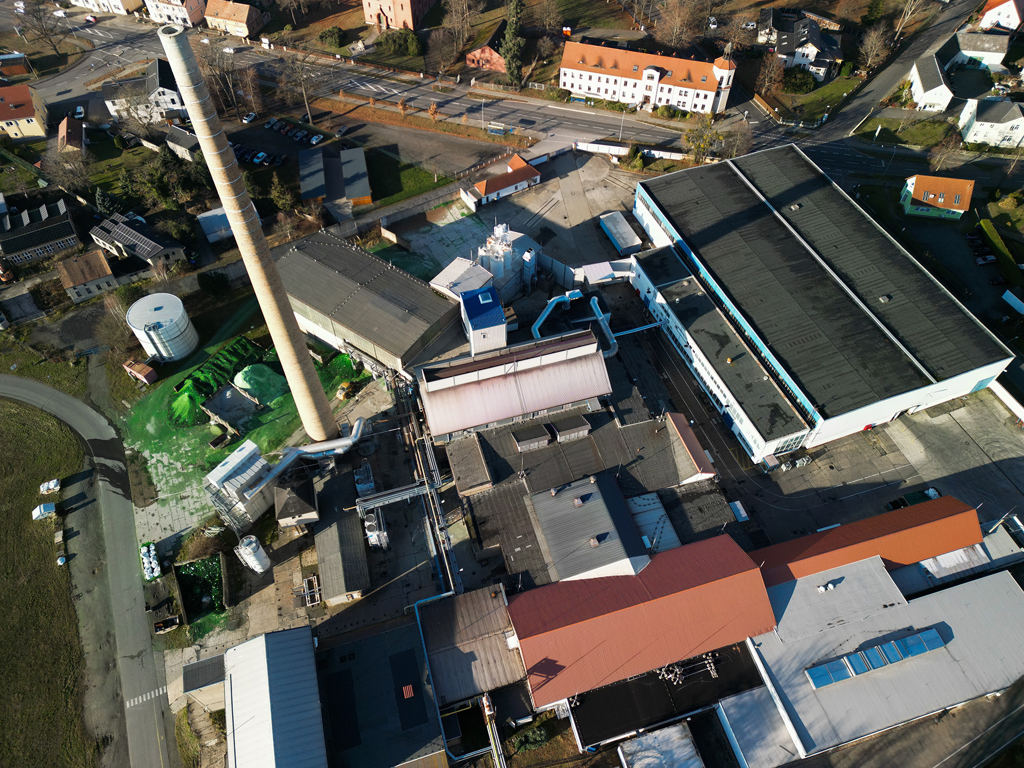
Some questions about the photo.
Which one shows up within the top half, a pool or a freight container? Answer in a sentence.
Visible within the top half is a freight container.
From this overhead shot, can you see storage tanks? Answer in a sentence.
Yes, a storage tank appears in the view.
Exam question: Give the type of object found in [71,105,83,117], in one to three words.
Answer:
vehicle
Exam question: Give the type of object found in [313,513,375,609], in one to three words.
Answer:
building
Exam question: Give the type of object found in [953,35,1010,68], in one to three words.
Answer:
barn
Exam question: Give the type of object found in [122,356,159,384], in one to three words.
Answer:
shed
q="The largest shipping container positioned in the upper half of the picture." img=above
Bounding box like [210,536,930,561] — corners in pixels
[599,211,642,256]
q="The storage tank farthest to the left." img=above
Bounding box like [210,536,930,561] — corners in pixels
[124,290,201,366]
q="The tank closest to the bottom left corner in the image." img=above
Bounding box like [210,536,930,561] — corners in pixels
[231,533,279,582]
